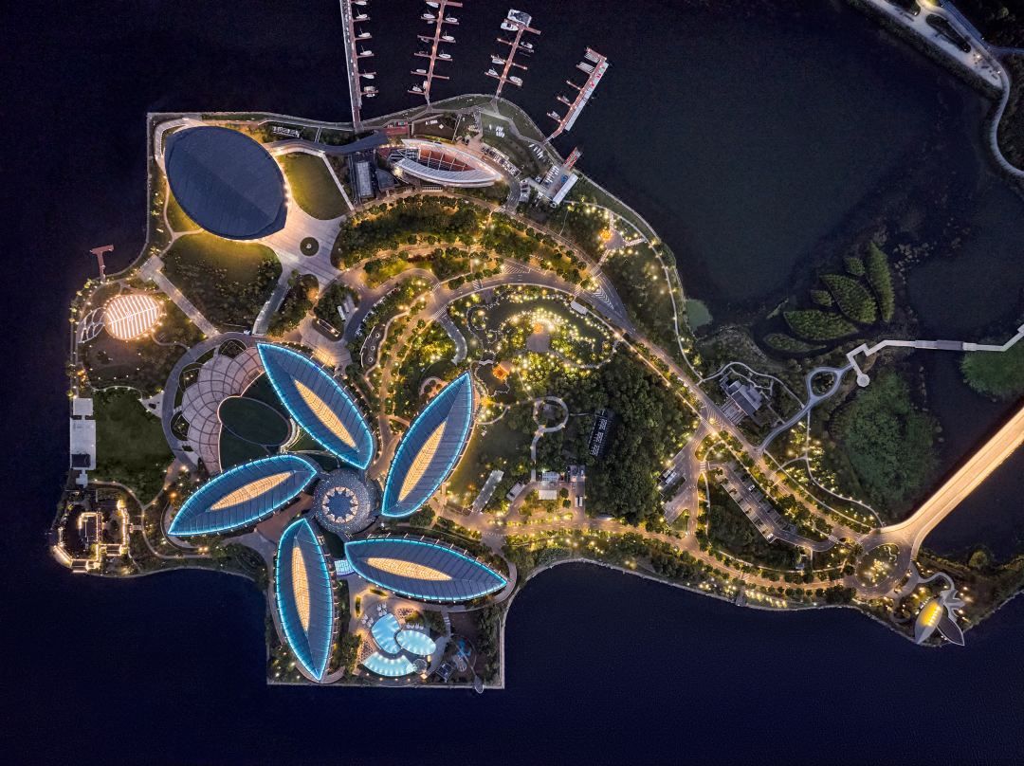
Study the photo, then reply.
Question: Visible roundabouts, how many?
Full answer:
I count just 1 roundabout.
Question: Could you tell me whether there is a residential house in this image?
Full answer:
Yes, the photo shows a residential house.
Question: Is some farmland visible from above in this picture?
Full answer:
No, the scene doesn't show any farmland.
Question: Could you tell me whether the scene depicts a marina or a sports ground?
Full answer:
This image shows a marina.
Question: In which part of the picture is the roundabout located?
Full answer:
The roundabout appears toward the bottom right of the photo.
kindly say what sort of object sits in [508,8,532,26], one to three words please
boat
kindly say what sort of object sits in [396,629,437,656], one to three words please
swimming pool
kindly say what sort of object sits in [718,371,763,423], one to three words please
house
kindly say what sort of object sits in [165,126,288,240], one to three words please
building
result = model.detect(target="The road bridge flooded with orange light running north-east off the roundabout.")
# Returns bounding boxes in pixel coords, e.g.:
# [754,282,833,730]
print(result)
[874,412,1024,559]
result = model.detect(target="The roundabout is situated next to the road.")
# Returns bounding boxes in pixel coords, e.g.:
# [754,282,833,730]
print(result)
[842,530,913,600]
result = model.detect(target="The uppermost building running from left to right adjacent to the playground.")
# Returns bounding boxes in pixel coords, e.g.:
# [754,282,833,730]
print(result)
[341,535,510,604]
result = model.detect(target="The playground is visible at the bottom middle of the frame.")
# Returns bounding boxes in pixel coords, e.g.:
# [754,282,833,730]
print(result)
[449,612,483,664]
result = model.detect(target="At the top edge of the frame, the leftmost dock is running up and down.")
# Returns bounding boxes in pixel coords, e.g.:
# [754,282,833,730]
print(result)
[339,0,378,125]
